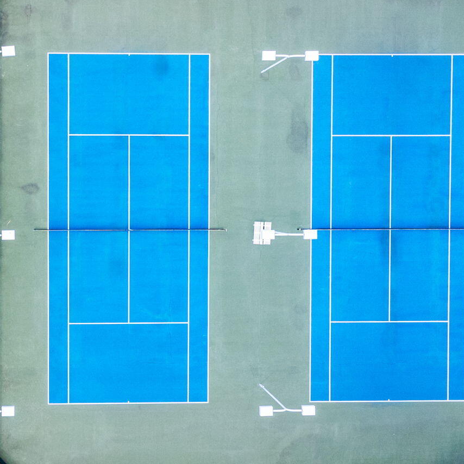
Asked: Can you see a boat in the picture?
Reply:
No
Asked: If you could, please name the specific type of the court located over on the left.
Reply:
tennis court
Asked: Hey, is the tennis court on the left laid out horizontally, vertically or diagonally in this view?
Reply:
vertically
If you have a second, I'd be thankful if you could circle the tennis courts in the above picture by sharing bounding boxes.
[48,53,210,403]
[310,54,464,402]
